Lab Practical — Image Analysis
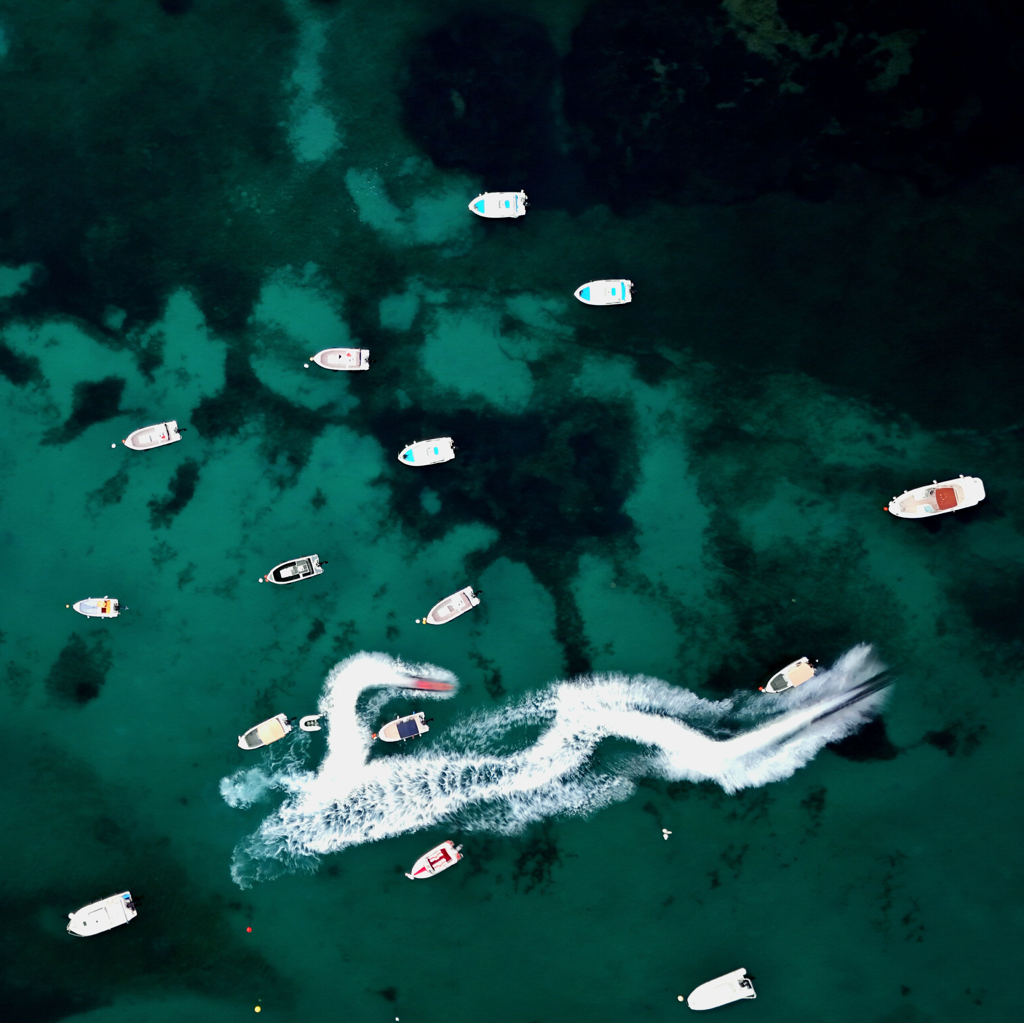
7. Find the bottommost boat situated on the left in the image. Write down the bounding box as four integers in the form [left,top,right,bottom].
[67,889,141,937]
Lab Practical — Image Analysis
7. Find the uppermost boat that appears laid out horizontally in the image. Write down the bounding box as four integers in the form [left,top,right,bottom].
[468,192,530,218]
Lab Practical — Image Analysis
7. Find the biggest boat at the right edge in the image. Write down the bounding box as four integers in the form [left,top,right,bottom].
[890,478,985,516]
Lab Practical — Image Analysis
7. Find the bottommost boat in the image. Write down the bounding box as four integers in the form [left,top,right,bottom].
[686,968,757,1010]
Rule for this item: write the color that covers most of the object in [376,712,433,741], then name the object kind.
white boat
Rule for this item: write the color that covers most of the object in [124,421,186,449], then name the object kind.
white boat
